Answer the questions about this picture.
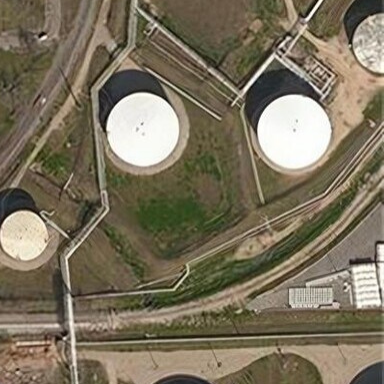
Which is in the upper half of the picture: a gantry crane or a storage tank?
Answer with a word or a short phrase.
storage tank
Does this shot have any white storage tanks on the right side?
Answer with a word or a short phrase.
Yes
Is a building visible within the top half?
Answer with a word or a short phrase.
No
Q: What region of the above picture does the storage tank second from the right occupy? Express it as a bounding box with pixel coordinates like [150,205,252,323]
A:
[256,94,334,170]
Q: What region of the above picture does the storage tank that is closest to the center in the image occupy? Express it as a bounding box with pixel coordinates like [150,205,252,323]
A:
[105,91,181,167]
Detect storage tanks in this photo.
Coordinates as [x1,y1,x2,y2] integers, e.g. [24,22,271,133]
[0,208,50,261]
[256,94,334,170]
[351,12,384,76]
[105,91,181,167]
